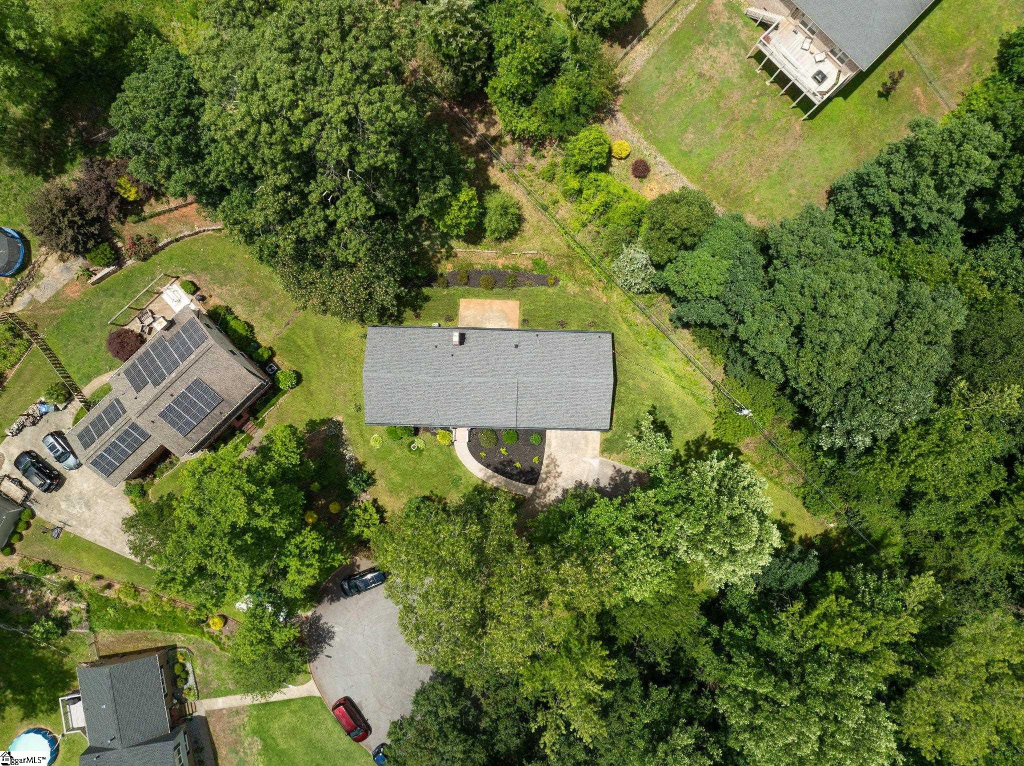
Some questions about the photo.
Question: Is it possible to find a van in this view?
Yes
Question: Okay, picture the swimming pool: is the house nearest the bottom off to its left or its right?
to its right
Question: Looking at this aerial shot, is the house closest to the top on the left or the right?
right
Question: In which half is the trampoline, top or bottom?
top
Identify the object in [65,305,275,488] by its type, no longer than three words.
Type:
house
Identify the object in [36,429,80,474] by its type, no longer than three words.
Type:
car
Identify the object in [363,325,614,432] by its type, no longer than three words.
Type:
house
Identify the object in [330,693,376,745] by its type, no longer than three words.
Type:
van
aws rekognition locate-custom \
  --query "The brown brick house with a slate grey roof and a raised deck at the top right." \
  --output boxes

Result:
[742,0,936,93]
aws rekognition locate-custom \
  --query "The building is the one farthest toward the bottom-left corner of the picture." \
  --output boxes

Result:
[76,646,201,766]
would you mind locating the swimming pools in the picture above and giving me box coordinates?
[6,722,65,766]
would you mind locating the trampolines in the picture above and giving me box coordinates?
[0,227,27,276]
